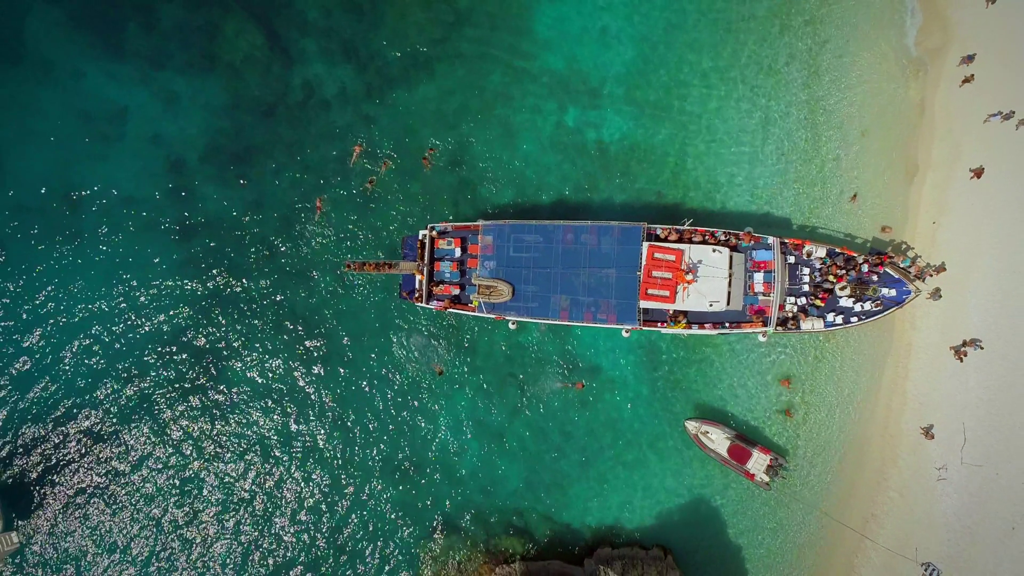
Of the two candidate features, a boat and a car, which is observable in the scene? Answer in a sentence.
Of the two, only a boat appears.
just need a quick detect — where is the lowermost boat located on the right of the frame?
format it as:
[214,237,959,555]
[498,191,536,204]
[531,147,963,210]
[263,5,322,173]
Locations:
[685,421,784,490]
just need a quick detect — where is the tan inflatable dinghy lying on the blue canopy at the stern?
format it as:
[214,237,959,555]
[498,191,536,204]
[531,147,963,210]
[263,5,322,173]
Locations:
[471,278,513,302]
